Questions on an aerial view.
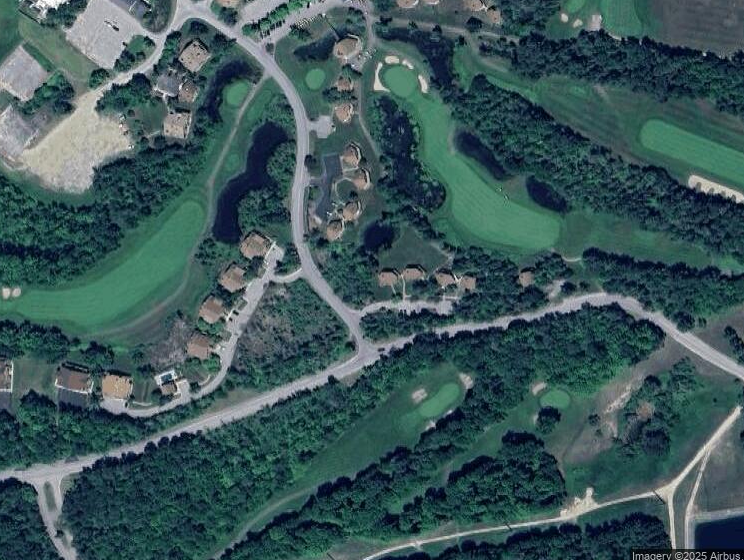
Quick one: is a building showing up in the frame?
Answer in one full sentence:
Yes, I can see a building in this picture.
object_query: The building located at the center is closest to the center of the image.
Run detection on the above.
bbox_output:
[376,267,397,287]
